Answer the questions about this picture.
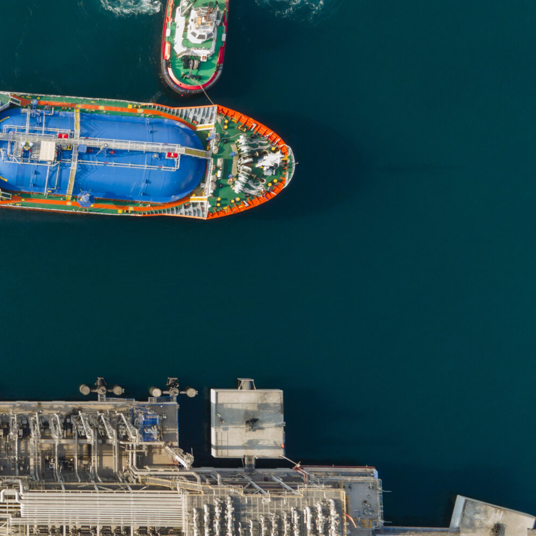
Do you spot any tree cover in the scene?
No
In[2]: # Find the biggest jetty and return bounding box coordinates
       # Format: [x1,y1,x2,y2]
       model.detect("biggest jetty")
[179,465,379,496]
